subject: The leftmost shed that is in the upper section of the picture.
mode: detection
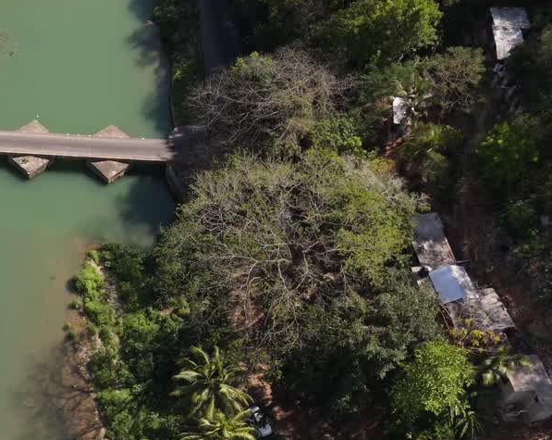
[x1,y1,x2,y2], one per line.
[389,97,412,134]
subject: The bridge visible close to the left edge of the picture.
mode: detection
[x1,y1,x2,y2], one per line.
[0,120,174,184]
